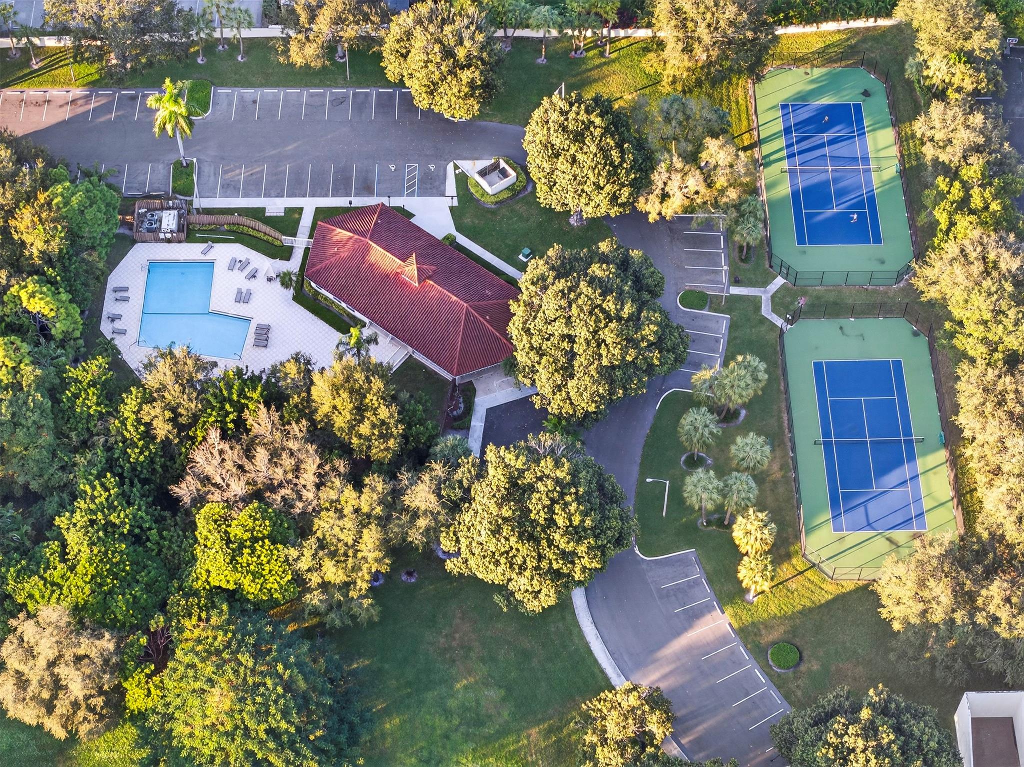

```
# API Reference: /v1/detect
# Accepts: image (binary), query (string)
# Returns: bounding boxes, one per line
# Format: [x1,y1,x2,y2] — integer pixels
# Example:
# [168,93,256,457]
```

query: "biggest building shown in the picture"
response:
[305,201,527,390]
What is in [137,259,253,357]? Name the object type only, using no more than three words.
swimming pool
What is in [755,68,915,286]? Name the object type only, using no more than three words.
tennis court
